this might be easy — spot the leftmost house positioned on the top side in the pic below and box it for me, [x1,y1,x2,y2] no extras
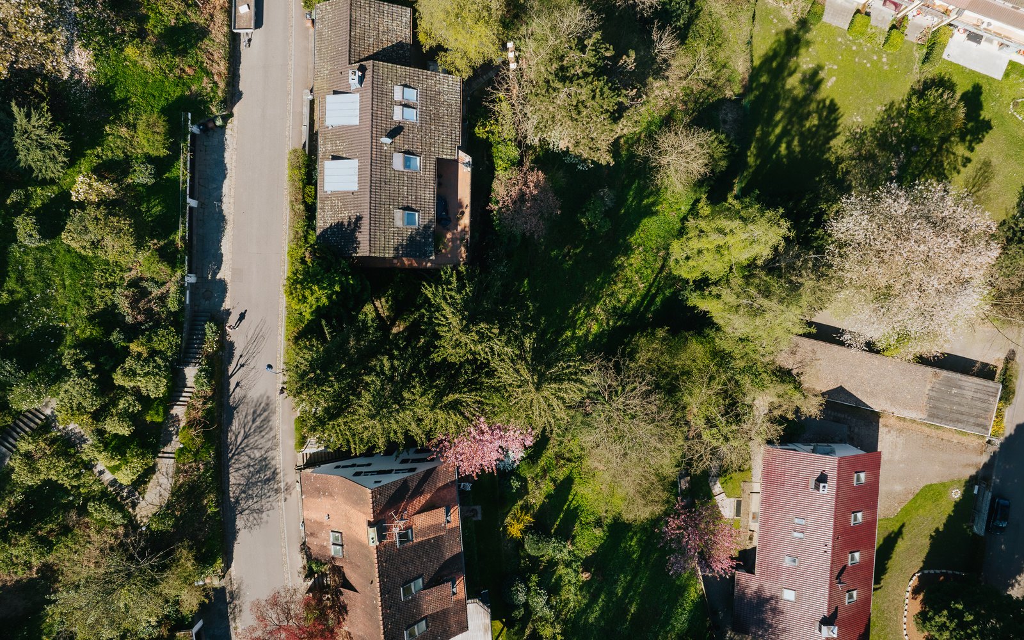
[313,0,472,268]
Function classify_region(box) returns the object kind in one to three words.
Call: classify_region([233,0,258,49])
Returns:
trailer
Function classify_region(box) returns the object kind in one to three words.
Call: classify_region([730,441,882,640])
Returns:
house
